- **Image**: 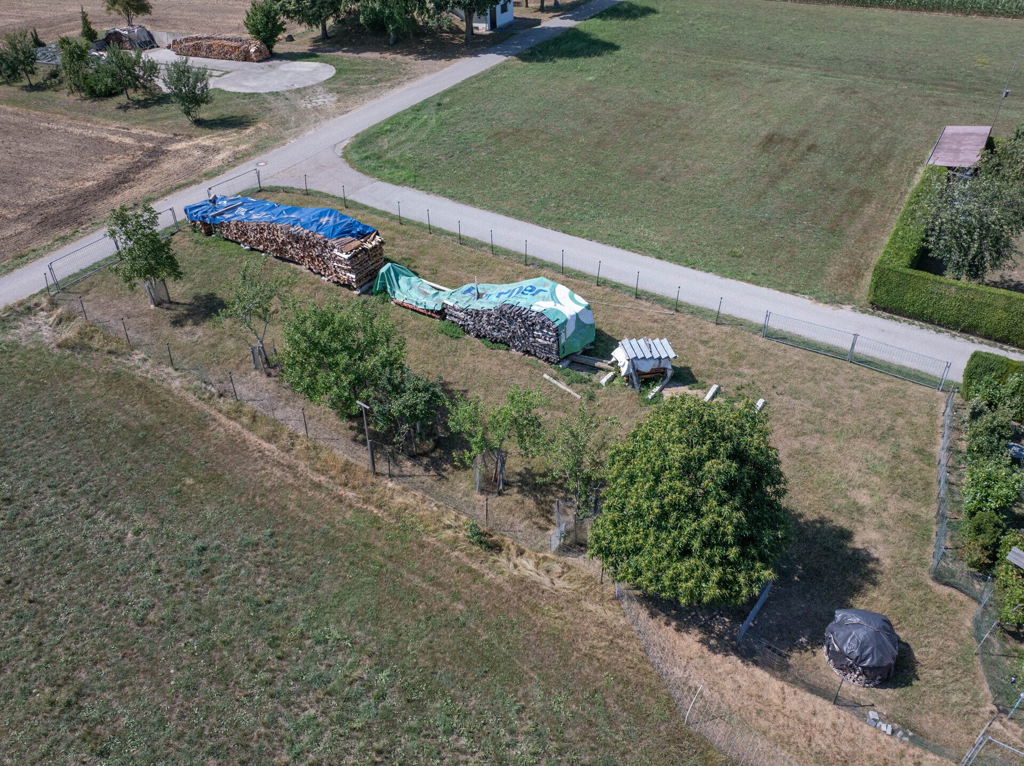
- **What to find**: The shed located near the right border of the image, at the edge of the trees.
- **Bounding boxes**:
[918,126,991,192]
